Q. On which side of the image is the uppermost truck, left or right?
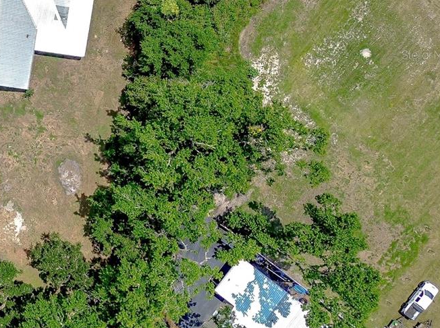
right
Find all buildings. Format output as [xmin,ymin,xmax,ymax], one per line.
[212,258,322,328]
[0,0,93,91]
